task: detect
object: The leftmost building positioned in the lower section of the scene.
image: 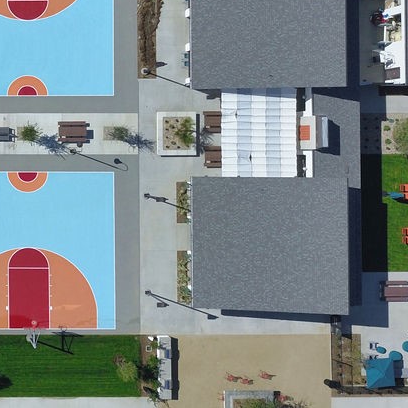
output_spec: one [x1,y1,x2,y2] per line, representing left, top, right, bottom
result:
[184,174,350,317]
